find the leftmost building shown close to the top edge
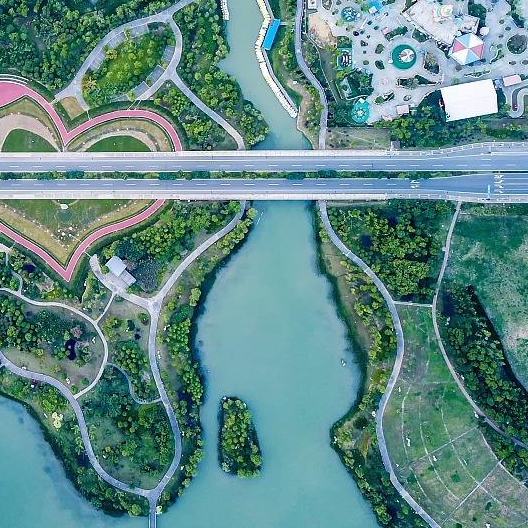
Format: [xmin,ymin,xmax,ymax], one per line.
[261,19,280,50]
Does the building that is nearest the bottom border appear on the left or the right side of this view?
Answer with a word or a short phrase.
left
